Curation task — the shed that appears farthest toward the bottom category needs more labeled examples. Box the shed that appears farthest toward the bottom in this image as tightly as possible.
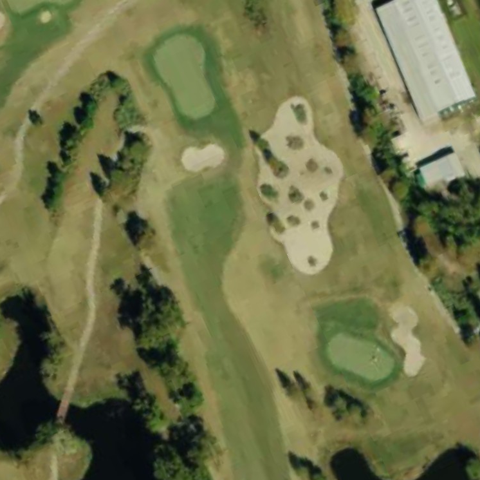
[415,151,466,192]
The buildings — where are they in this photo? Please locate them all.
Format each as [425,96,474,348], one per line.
[415,151,466,192]
[366,0,478,127]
